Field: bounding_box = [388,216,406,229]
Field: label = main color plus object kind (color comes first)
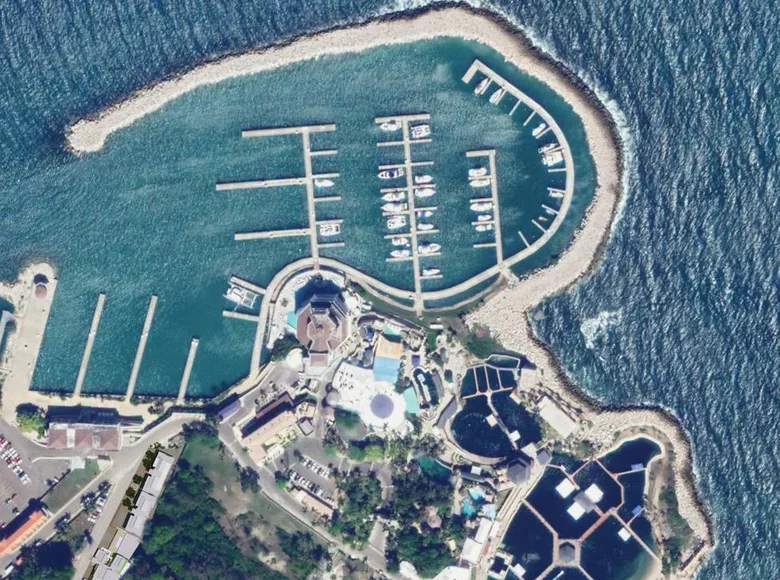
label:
white boat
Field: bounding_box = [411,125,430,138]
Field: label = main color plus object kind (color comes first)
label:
white boat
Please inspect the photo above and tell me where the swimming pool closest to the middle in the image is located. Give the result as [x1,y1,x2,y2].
[379,325,404,338]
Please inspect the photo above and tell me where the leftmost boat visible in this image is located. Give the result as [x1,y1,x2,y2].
[222,284,260,309]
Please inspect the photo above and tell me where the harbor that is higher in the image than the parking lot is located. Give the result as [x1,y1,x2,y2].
[28,258,517,405]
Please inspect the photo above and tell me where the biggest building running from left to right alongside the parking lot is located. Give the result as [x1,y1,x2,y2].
[48,423,120,451]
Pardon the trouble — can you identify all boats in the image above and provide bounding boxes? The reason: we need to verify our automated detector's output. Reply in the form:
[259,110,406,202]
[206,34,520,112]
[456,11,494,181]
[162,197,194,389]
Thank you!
[382,193,404,201]
[314,179,333,187]
[392,238,408,245]
[423,269,440,276]
[391,251,410,258]
[542,150,564,167]
[378,169,404,178]
[320,223,340,236]
[380,121,401,130]
[539,143,558,153]
[491,87,504,104]
[476,77,490,93]
[532,122,547,136]
[415,176,433,184]
[222,284,260,309]
[470,179,490,187]
[475,225,486,231]
[388,216,406,229]
[470,203,492,211]
[417,244,440,252]
[478,215,491,221]
[417,211,433,217]
[417,223,433,230]
[414,188,435,197]
[548,191,564,197]
[411,125,430,138]
[382,203,407,211]
[468,168,487,176]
